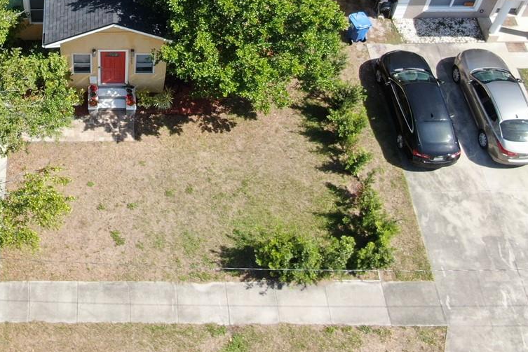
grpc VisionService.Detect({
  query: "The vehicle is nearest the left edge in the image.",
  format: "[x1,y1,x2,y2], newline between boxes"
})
[378,51,460,163]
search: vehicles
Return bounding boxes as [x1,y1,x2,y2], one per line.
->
[460,49,528,161]
[378,51,460,163]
